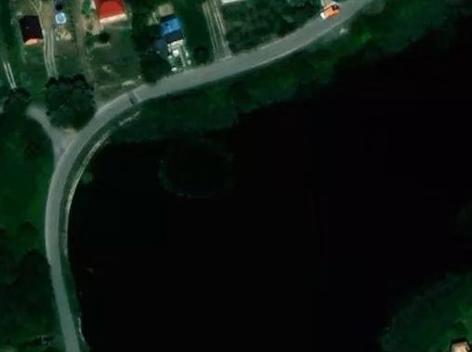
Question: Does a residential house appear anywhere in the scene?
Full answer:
Yes, looking at the shot, I can spot a residential house.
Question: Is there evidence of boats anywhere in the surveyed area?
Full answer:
No, no boat is visible in the scene.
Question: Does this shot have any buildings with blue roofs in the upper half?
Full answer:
Yes, a building with a blue roof is visible in the upper half.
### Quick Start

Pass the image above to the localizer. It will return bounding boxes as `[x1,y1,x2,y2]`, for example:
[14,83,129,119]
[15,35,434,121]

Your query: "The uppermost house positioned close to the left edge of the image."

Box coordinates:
[21,13,44,43]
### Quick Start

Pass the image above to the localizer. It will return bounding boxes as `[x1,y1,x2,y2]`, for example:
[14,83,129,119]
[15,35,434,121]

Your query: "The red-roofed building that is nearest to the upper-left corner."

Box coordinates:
[95,0,125,22]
